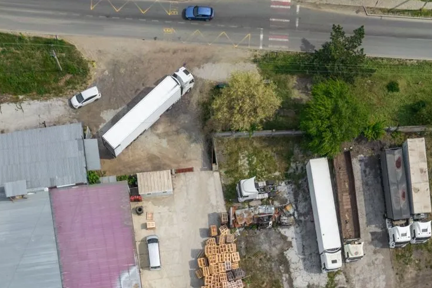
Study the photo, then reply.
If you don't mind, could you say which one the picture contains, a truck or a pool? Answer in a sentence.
It is a truck that can be seen here.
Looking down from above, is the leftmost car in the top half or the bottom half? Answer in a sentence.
The leftmost car sits in the top half of the picture.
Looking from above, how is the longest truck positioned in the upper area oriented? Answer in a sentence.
The longest truck positioned in the upper area is laid out diagonally.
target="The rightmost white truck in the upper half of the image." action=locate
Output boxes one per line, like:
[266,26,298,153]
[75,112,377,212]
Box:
[103,61,198,156]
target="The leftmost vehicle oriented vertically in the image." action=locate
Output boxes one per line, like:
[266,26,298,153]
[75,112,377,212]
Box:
[145,234,163,271]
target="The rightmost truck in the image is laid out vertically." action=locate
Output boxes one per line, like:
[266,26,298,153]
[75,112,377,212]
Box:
[403,138,432,245]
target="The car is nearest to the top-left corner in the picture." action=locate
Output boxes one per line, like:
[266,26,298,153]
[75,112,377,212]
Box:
[71,86,103,109]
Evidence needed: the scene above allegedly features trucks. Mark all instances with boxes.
[379,147,414,250]
[235,176,276,199]
[330,151,367,265]
[403,138,432,245]
[103,61,198,156]
[307,157,344,272]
